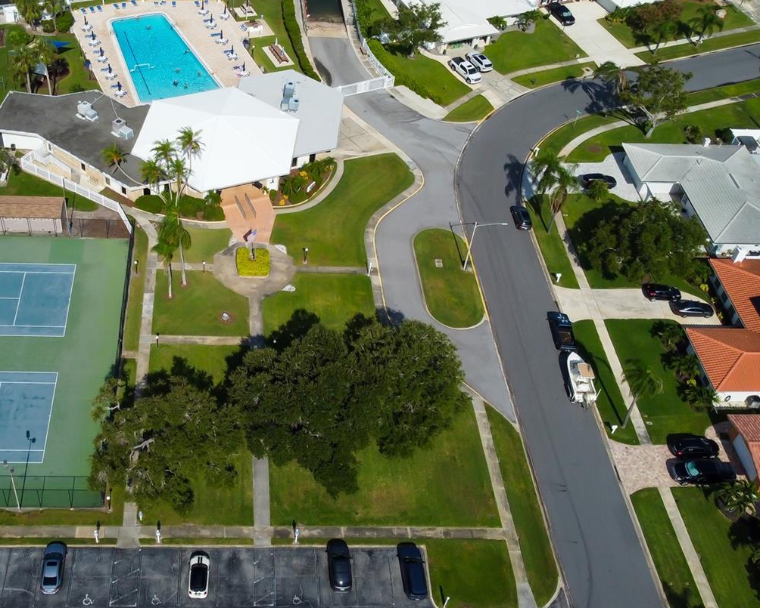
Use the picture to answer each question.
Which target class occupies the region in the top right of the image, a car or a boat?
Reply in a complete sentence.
It is a car that can be seen in the top right of the image.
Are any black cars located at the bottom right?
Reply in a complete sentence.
Yes, a black car shows up at the bottom right.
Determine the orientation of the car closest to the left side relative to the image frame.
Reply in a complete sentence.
From this overhead view, the car closest to the left side appears to run from top to bottom.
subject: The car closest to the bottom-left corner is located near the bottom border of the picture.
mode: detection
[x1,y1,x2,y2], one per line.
[40,540,66,593]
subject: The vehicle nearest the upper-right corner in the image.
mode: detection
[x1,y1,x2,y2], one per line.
[550,1,576,22]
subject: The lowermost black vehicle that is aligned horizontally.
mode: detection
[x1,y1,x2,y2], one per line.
[674,459,739,485]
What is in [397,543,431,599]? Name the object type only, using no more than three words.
car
